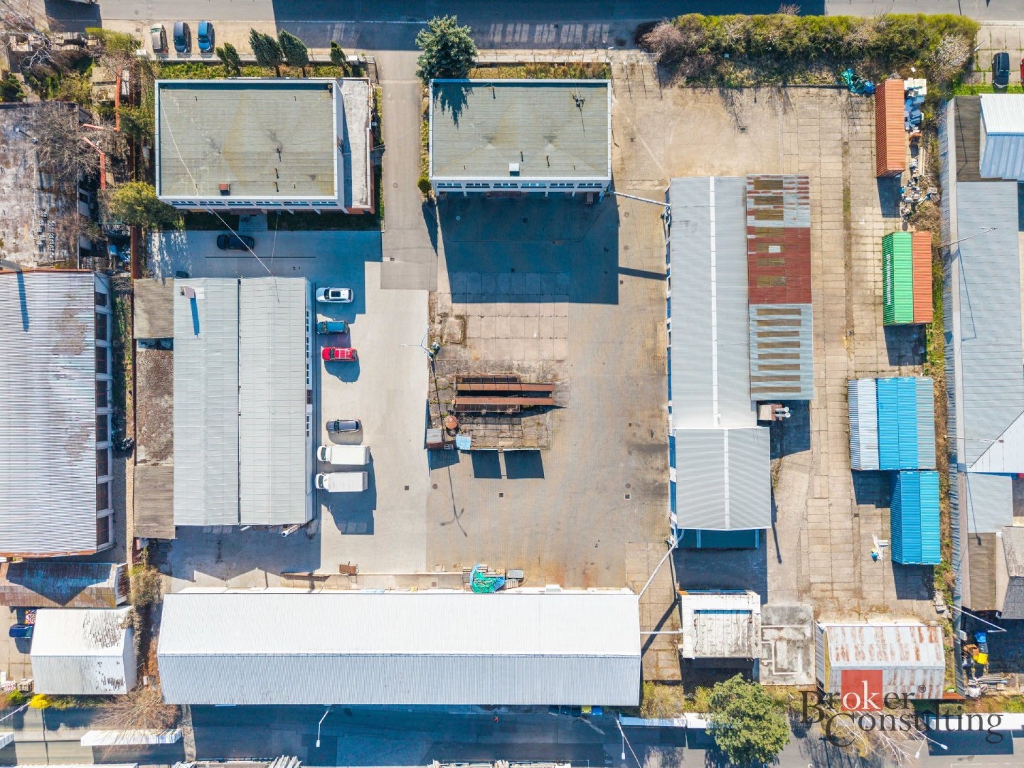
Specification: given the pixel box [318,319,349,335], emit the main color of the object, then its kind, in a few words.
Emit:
blue car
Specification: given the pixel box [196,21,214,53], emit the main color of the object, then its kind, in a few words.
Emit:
blue car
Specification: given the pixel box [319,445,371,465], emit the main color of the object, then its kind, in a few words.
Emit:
white vehicle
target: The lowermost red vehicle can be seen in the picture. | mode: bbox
[323,346,358,362]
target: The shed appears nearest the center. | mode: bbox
[425,428,457,452]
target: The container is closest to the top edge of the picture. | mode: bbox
[874,79,906,177]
